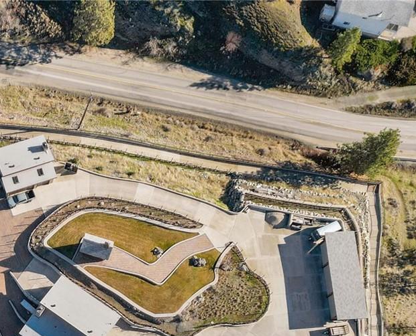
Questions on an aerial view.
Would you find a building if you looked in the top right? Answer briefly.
Yes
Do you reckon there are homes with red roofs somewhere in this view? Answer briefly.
No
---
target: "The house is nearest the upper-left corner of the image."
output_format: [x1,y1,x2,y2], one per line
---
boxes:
[0,136,57,199]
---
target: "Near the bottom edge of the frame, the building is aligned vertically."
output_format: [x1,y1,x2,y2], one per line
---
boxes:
[318,231,368,321]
